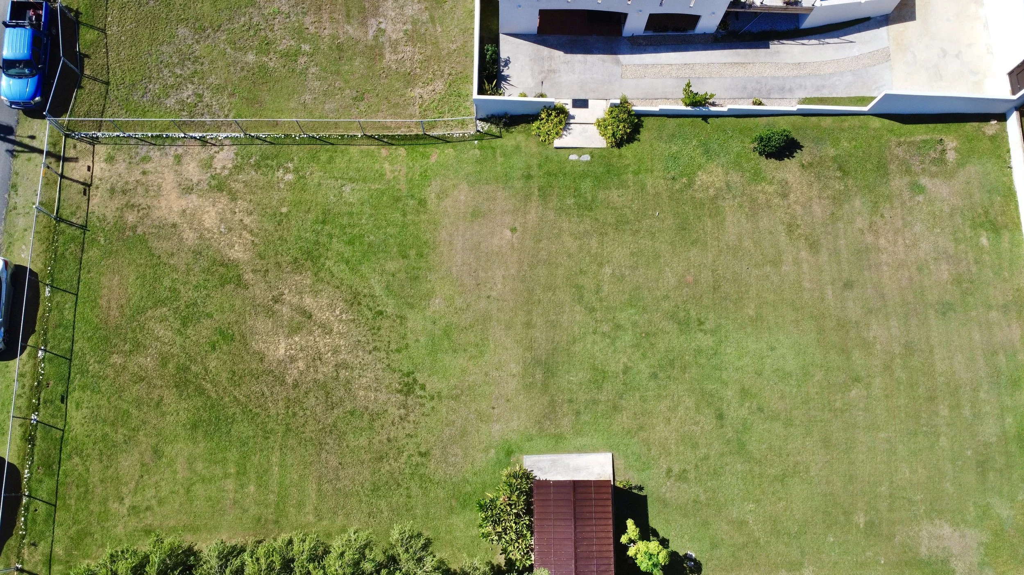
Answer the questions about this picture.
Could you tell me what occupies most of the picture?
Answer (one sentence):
Most of the picture is covered by grass.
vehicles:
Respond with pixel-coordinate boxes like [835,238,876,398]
[0,258,20,351]
[0,0,62,111]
